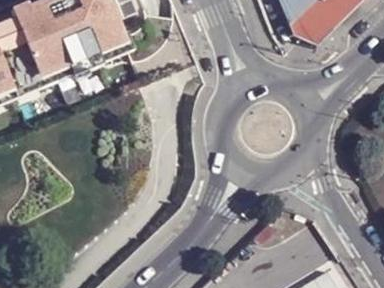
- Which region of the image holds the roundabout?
right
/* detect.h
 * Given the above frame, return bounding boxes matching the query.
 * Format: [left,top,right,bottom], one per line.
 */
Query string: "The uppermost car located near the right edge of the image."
[350,20,370,38]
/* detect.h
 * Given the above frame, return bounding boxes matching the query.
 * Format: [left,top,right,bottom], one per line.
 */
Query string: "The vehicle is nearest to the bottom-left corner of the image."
[136,266,157,285]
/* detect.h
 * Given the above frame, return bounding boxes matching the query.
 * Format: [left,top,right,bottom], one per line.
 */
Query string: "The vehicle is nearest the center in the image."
[212,152,224,174]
